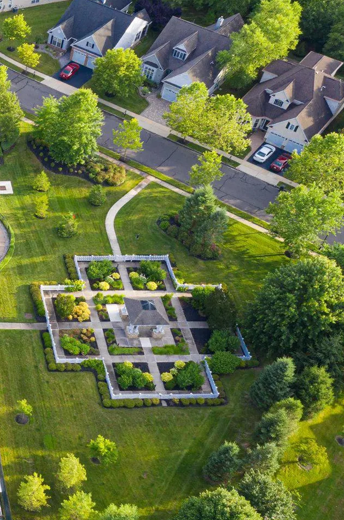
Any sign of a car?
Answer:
Yes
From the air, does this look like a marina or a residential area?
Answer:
residential area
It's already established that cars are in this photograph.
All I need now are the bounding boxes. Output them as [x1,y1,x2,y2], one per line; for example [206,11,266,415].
[253,143,276,162]
[270,153,293,171]
[60,63,81,78]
